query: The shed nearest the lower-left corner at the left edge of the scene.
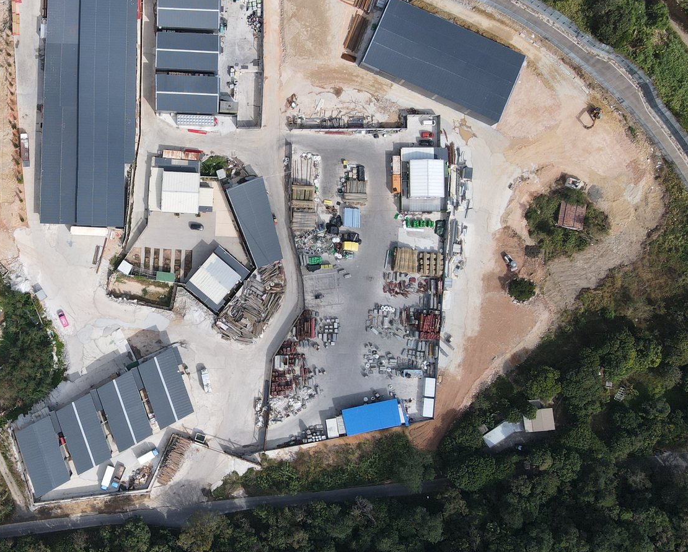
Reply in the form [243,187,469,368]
[16,416,73,497]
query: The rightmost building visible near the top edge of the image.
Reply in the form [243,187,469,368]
[356,0,526,128]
